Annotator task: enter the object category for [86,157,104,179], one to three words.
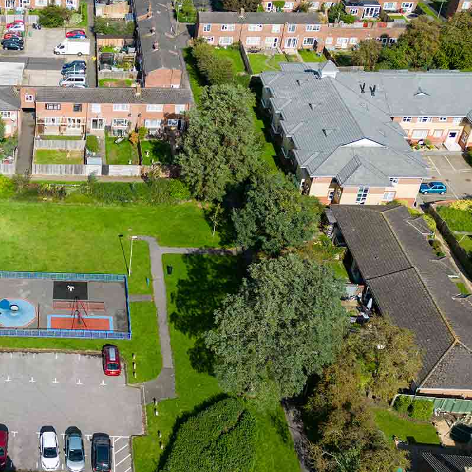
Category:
shed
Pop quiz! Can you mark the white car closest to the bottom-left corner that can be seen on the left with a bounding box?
[38,429,60,471]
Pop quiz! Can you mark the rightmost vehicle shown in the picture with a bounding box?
[421,180,451,196]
